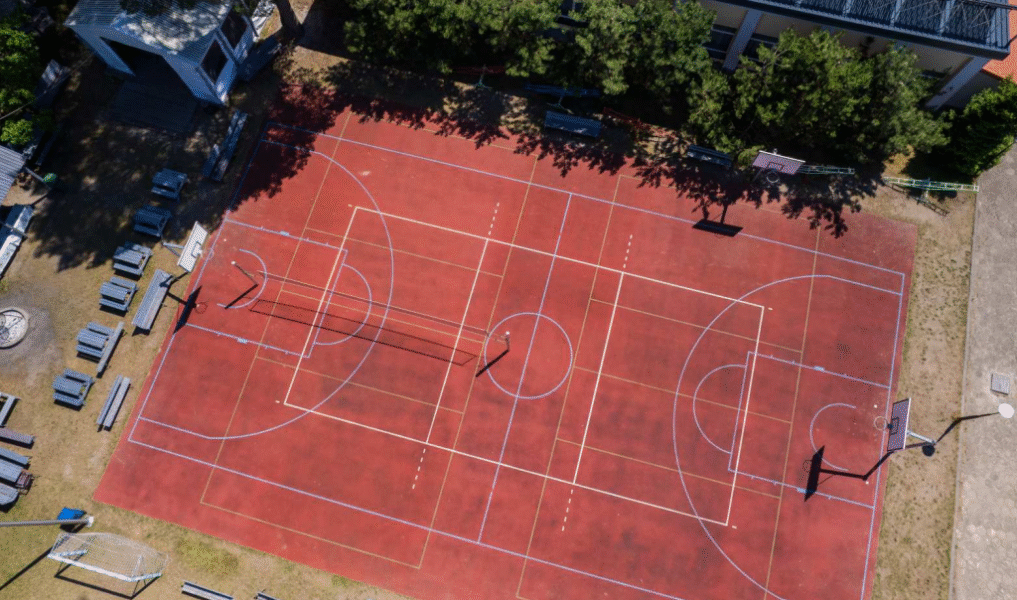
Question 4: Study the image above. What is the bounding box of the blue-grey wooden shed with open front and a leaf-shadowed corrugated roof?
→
[62,0,267,99]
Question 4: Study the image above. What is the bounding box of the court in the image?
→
[91,76,918,600]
